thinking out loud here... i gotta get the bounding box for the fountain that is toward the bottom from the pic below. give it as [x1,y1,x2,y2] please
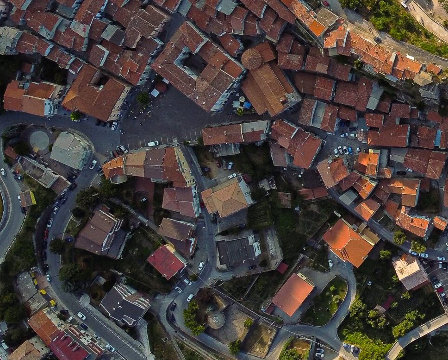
[207,311,226,330]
